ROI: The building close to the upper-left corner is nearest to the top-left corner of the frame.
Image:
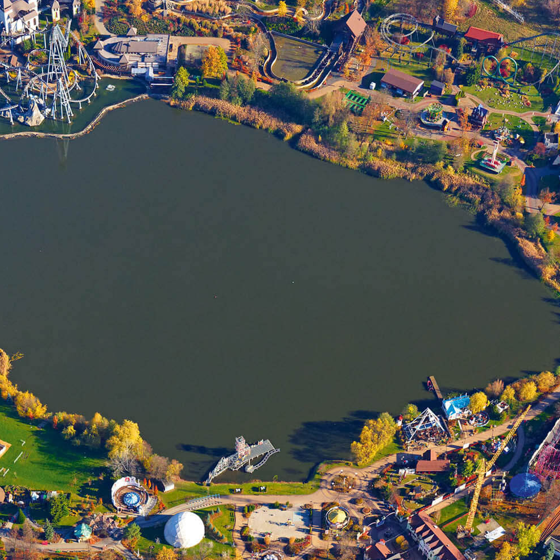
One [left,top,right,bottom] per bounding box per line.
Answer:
[0,0,42,34]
